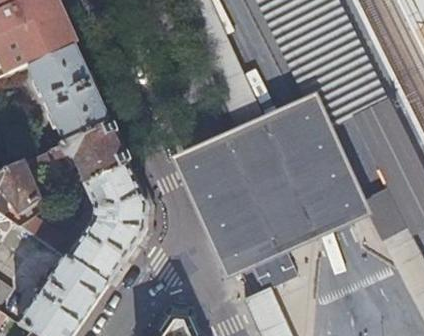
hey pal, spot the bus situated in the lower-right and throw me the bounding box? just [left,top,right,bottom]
[322,234,348,276]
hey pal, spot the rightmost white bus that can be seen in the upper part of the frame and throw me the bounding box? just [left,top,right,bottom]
[245,68,273,107]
